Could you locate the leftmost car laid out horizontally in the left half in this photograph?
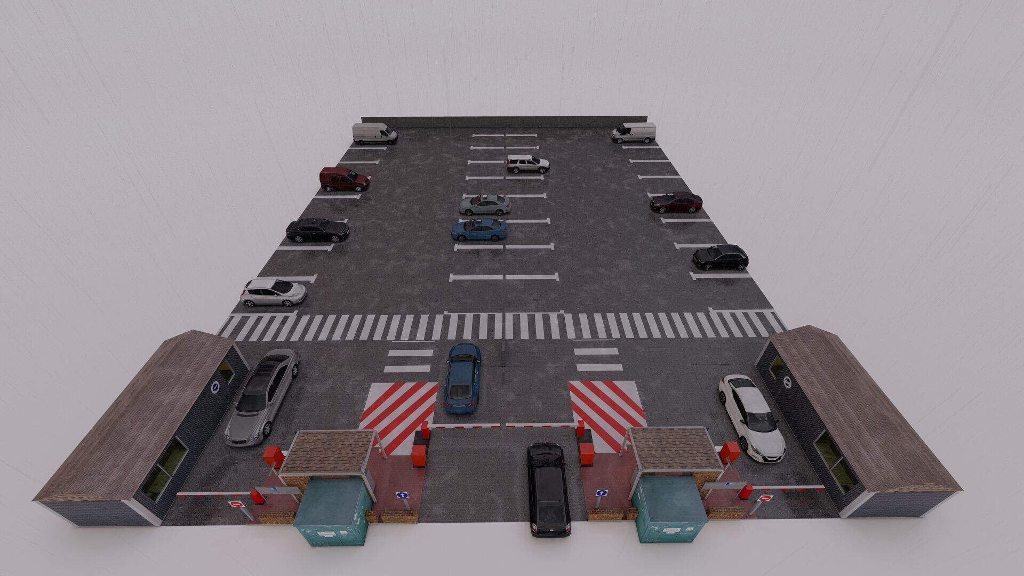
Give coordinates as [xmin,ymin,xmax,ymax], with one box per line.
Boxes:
[240,276,308,307]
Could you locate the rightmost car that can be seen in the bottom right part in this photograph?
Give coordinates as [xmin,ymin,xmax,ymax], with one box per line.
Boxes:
[721,376,789,466]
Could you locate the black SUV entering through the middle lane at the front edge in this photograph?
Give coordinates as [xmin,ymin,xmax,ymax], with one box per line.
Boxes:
[525,442,575,541]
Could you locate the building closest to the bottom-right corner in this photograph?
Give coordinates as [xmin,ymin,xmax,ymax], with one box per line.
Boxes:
[755,327,964,518]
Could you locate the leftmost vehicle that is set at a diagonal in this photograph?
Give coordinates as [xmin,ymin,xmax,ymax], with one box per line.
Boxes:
[221,349,300,446]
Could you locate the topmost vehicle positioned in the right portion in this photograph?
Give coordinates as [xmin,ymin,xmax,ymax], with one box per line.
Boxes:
[611,122,657,143]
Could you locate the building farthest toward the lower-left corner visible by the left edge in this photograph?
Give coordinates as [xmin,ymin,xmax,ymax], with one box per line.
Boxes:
[31,331,250,527]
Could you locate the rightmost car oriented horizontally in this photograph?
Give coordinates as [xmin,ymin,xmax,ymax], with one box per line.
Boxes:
[693,244,750,270]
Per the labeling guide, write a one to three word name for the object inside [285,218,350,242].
car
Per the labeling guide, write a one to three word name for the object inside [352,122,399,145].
vehicle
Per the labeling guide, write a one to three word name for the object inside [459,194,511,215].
car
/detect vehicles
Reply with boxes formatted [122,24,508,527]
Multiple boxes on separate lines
[459,194,511,215]
[451,218,508,241]
[525,442,575,541]
[508,154,552,173]
[318,168,369,192]
[442,342,482,413]
[611,122,657,143]
[693,244,750,270]
[352,122,399,145]
[650,191,705,213]
[721,376,789,466]
[285,218,350,242]
[221,349,300,446]
[240,276,308,307]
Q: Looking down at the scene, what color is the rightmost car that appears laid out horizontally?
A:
black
